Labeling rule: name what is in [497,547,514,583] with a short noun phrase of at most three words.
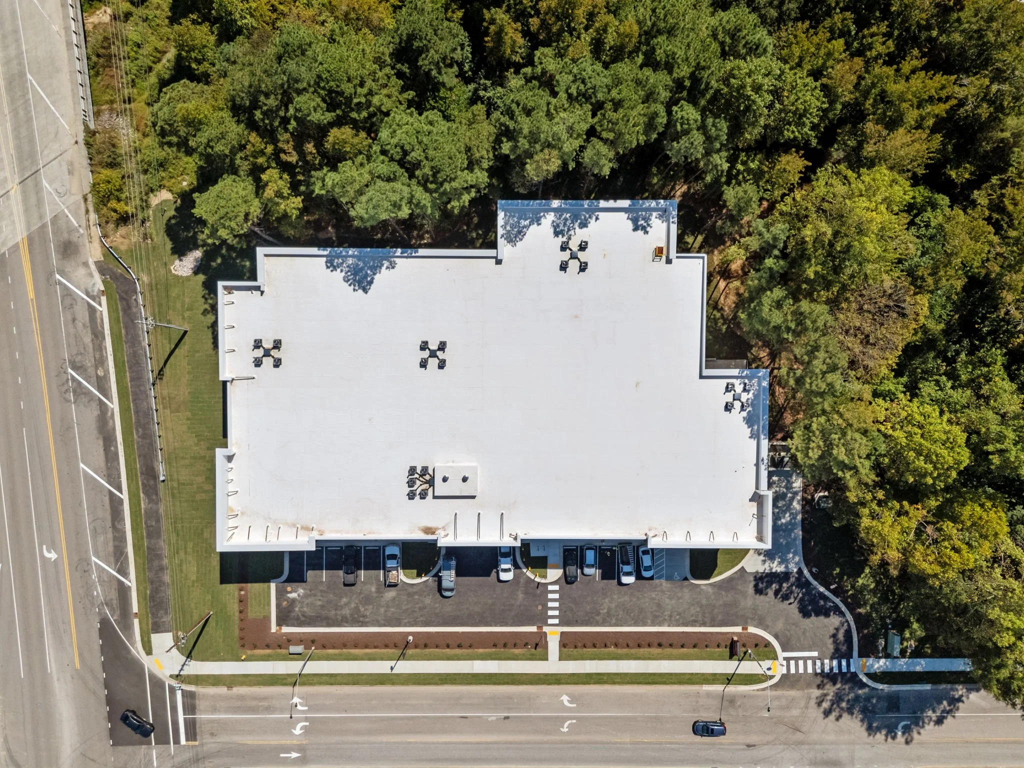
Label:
vehicle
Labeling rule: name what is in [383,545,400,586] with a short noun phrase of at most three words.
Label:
vehicle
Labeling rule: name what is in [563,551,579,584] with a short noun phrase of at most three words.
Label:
car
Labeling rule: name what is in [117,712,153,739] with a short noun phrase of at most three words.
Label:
car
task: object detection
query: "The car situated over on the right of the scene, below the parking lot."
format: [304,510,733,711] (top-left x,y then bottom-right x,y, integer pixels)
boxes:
[693,722,728,741]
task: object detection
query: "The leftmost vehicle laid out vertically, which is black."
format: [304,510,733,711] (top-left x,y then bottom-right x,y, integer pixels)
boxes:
[340,546,357,586]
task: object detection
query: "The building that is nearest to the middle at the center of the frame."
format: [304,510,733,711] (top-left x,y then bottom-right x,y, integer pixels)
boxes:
[216,199,772,551]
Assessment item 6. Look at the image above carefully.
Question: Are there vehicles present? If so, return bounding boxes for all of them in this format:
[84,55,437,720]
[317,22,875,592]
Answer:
[639,546,656,579]
[340,546,357,586]
[693,722,728,741]
[582,545,598,577]
[439,558,457,598]
[619,543,638,585]
[117,712,153,739]
[497,547,514,583]
[383,545,400,586]
[563,551,579,584]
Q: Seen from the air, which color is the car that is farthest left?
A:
black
